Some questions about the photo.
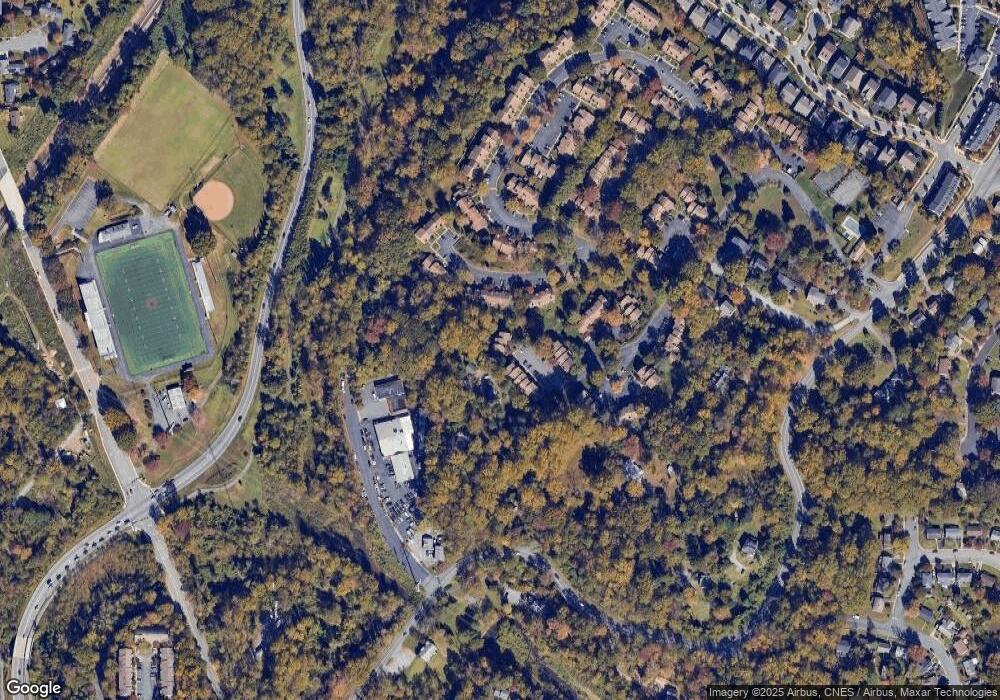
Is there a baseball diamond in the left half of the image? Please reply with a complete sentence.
Yes, you'll find a baseball diamond in the left half of the image.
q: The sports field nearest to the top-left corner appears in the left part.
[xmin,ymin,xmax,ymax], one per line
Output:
[94,53,234,211]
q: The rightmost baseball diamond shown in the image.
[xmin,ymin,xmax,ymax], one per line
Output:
[190,146,265,245]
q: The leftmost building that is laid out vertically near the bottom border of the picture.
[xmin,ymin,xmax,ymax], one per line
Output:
[118,648,132,698]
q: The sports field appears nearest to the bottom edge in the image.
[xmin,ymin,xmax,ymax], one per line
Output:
[97,231,207,375]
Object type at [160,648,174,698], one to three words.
building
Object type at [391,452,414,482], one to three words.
building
